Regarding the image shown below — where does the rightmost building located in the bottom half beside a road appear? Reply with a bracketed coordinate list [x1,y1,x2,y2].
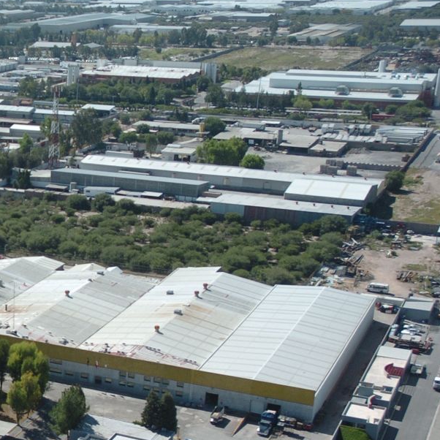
[399,298,437,335]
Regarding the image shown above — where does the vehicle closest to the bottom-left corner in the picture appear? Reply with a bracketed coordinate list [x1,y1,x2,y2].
[211,406,224,421]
